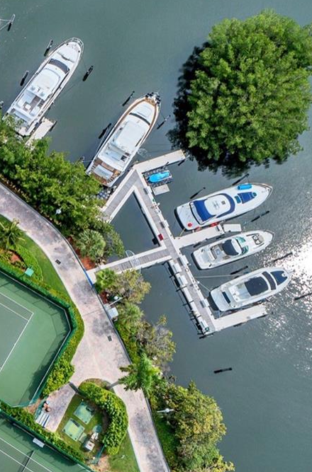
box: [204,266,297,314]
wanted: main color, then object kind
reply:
white boat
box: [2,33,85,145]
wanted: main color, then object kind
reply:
white boat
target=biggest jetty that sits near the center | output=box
[100,150,219,336]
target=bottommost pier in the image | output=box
[202,306,273,337]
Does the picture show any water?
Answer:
Yes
